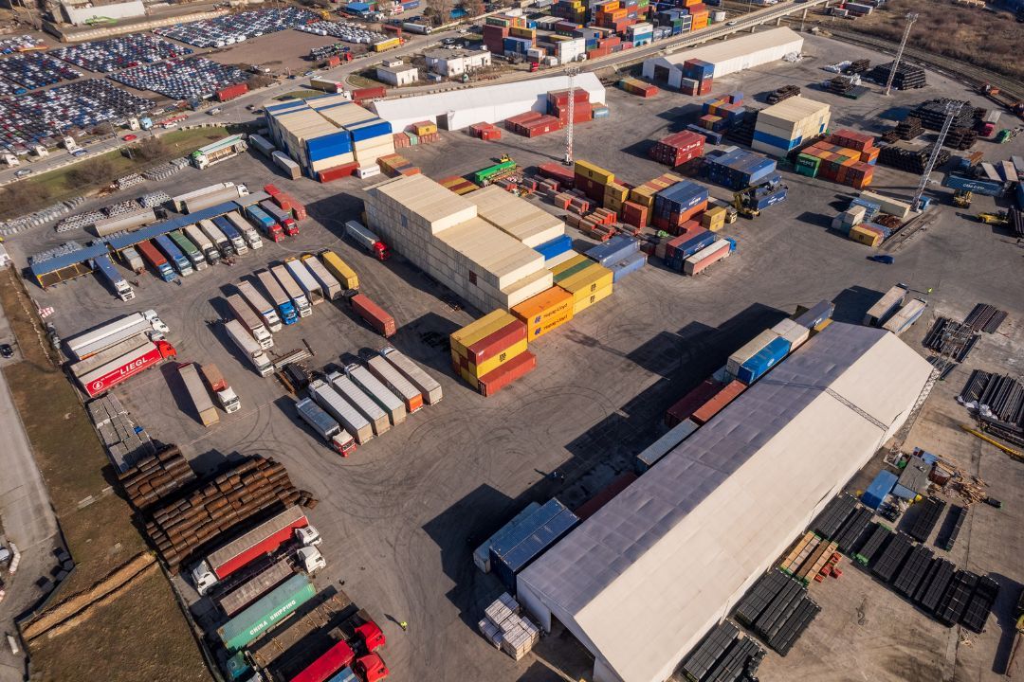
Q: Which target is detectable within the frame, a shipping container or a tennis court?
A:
shipping container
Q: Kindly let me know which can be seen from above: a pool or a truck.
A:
truck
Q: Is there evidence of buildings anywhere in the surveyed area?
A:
Yes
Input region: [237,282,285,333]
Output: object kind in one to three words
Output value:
truck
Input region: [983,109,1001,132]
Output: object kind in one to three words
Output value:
vehicle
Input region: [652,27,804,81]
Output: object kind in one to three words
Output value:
building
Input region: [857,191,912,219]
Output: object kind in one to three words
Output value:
shipping container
